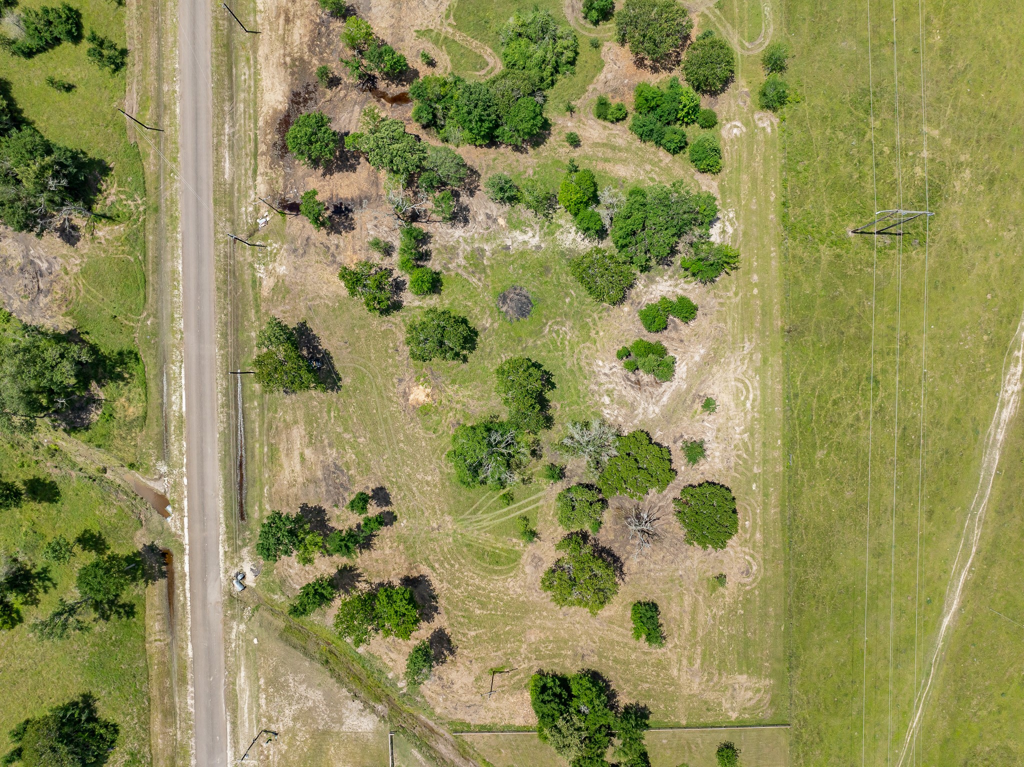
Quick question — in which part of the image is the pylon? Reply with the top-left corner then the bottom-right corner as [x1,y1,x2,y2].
[850,209,934,234]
